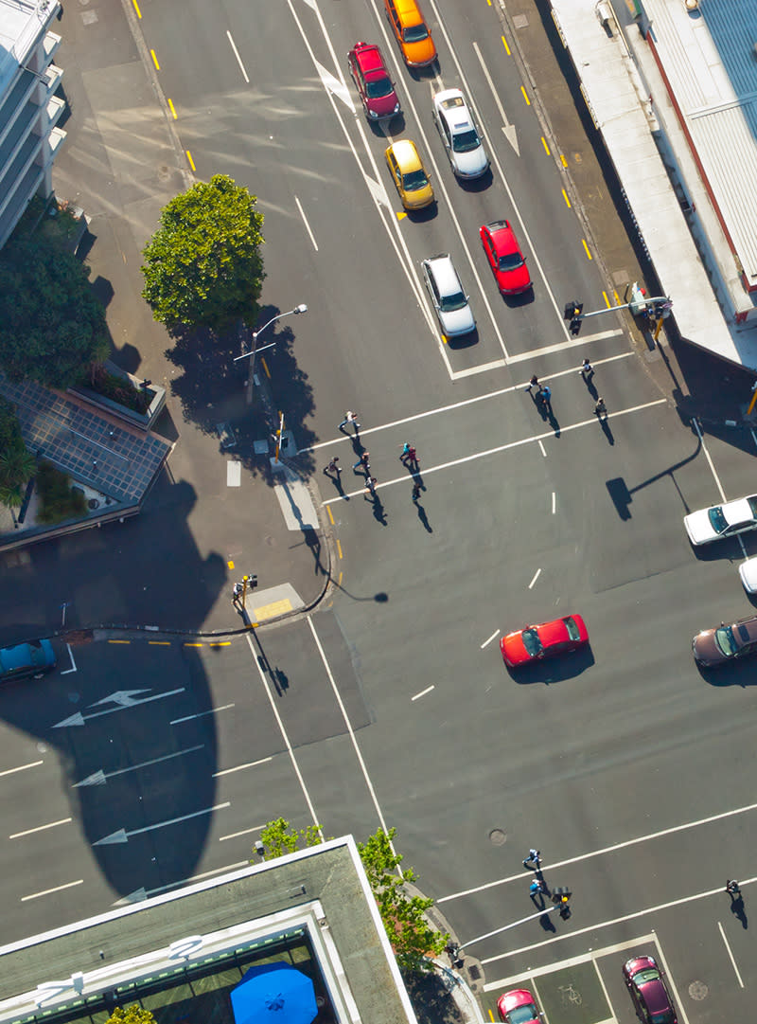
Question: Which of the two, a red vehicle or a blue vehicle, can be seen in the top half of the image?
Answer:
red vehicle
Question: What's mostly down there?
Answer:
paved ground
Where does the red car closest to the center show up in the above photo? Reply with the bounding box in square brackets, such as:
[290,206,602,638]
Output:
[498,613,588,665]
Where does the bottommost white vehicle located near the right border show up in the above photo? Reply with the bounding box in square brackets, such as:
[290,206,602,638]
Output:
[735,549,757,592]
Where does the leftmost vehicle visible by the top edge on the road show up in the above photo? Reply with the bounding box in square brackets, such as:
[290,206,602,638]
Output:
[351,43,399,123]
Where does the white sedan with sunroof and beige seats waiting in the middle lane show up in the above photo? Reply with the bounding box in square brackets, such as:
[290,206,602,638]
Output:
[434,96,488,181]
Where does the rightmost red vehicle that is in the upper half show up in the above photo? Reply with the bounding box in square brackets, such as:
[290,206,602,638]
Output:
[482,220,531,297]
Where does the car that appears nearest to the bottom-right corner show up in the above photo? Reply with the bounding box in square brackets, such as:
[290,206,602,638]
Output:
[625,953,683,1024]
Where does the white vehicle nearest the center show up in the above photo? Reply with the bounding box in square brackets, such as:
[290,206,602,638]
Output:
[423,257,474,339]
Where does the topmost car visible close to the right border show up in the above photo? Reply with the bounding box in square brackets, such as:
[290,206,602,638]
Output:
[682,490,757,545]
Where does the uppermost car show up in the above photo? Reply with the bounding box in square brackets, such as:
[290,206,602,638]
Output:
[382,0,436,66]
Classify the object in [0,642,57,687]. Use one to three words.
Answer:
car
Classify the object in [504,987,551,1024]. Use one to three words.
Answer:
car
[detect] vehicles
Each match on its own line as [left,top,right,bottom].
[504,987,551,1024]
[682,490,757,545]
[498,613,588,665]
[0,642,57,687]
[351,43,399,123]
[382,0,436,66]
[735,549,757,592]
[688,608,757,663]
[625,953,683,1024]
[482,220,531,297]
[423,257,474,339]
[434,96,488,181]
[388,142,434,211]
